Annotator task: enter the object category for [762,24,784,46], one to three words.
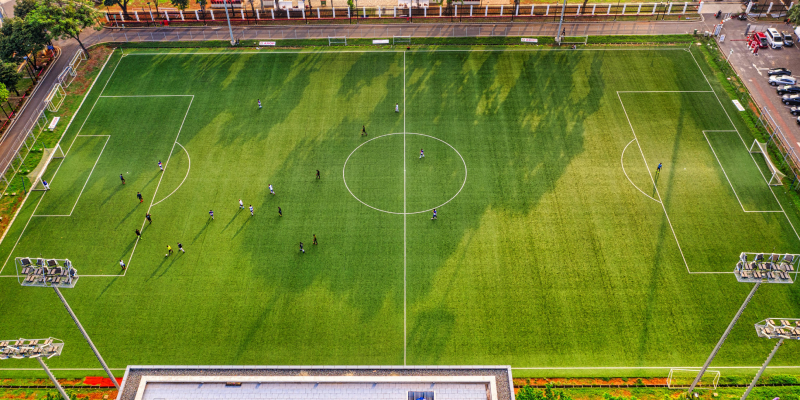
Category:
vehicle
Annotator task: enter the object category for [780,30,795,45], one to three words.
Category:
car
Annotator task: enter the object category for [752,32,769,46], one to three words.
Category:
car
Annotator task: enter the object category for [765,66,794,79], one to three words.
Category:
vehicle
